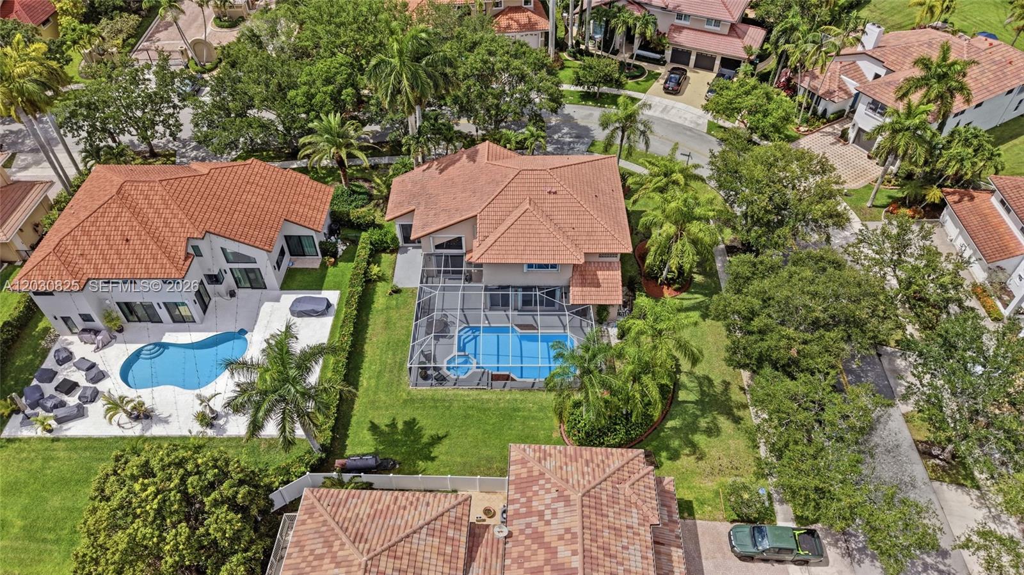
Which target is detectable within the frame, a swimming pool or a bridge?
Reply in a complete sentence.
The image shows a swimming pool.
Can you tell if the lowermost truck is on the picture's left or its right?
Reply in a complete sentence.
It is on the right.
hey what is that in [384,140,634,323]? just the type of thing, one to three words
house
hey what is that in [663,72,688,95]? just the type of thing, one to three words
car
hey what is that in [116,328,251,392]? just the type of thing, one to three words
swimming pool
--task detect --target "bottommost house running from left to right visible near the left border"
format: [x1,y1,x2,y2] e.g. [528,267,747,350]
[4,160,336,333]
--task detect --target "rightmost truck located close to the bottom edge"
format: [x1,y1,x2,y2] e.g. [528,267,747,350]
[727,523,829,568]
